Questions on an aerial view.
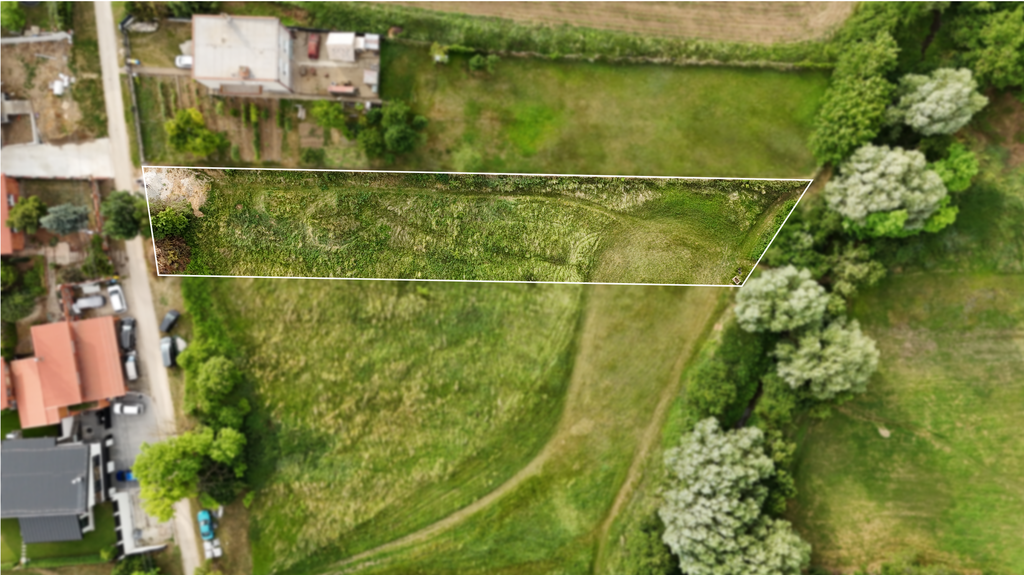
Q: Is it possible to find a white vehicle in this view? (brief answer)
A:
Yes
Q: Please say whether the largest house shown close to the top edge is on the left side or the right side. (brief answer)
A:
left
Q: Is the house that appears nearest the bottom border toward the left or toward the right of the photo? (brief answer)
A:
left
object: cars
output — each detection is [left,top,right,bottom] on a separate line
[158,309,181,334]
[124,351,141,380]
[175,55,193,69]
[120,317,137,349]
[307,33,322,61]
[77,296,107,310]
[197,509,215,541]
[117,469,134,483]
[115,402,147,416]
[108,285,129,314]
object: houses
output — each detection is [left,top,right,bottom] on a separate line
[192,11,294,100]
[0,432,112,518]
[11,315,134,428]
[0,173,24,254]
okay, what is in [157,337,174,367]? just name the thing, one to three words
vehicle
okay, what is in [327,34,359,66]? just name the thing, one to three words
gazebo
